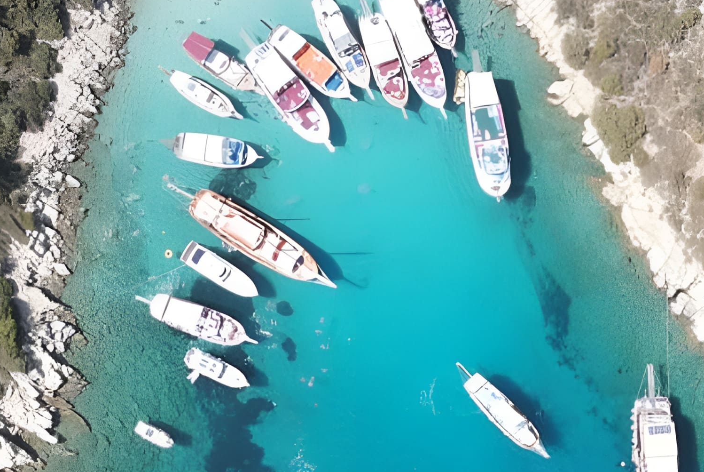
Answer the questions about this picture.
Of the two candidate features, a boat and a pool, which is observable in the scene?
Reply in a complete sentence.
Visible in the photo is a boat.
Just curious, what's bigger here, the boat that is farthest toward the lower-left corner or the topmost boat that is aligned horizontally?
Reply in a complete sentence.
The topmost boat that is aligned horizontally takes up more space than the boat that is farthest toward the lower-left corner.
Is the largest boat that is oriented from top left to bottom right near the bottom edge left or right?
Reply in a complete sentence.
The largest boat that is oriented from top left to bottom right near the bottom edge sits on the right side.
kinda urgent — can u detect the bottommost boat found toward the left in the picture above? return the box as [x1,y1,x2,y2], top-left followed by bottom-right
[133,420,173,446]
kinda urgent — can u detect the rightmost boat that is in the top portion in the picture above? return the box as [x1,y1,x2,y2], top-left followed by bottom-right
[466,49,512,202]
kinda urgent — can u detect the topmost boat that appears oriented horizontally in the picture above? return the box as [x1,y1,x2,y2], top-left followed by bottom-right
[159,133,264,168]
